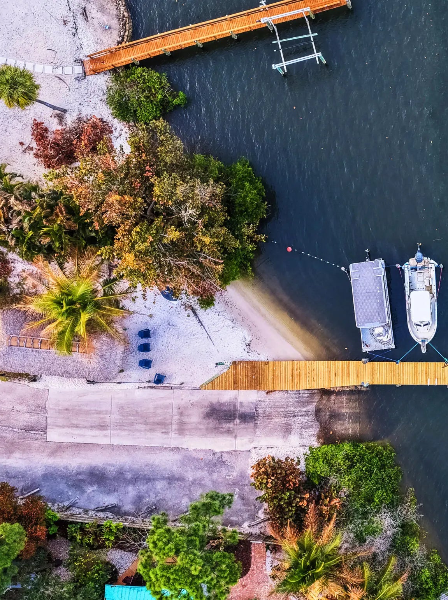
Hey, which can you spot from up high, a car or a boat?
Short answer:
boat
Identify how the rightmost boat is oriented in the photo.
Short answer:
vertically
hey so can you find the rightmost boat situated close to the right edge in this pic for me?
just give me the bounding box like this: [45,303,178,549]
[401,238,440,354]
